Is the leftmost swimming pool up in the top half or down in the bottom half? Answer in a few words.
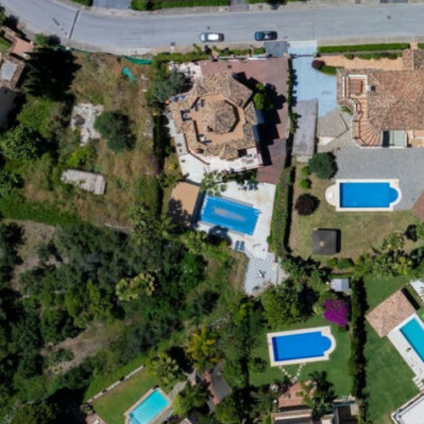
bottom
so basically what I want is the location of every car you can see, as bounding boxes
[200,33,224,44]
[255,30,277,41]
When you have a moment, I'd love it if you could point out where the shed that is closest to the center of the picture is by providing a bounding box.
[169,182,204,217]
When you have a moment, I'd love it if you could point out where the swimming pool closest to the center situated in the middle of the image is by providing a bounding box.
[199,194,261,238]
